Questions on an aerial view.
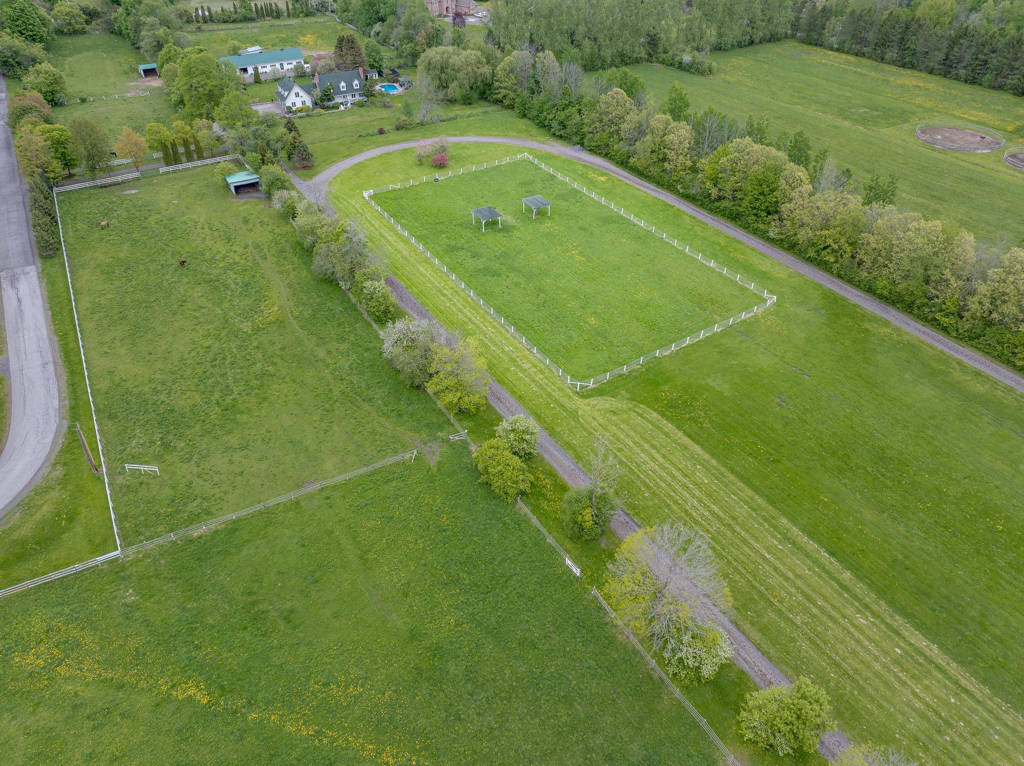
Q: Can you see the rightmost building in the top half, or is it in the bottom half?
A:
top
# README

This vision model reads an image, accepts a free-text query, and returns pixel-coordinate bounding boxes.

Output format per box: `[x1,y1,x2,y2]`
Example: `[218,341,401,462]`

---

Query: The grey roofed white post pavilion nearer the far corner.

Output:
[522,193,552,219]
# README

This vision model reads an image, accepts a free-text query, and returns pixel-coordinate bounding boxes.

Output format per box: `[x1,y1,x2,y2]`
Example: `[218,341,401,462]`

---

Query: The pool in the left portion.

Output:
[374,82,413,95]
